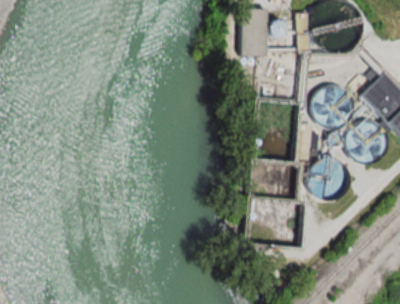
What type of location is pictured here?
industrial area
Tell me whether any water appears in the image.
Yes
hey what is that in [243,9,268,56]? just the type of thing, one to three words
building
